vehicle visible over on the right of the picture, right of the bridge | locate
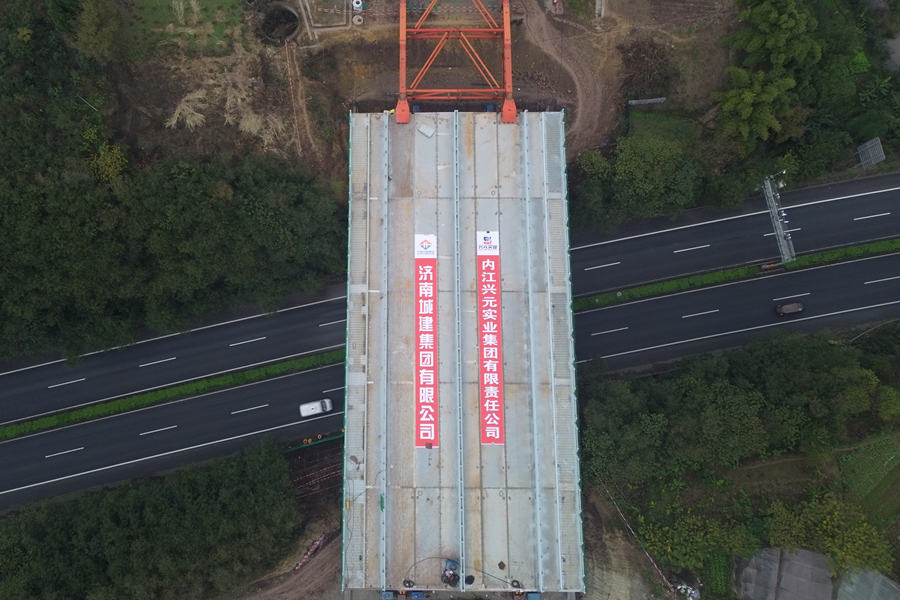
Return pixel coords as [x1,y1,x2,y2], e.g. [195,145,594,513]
[774,301,802,315]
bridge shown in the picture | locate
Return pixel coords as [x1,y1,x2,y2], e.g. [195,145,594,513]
[340,104,588,597]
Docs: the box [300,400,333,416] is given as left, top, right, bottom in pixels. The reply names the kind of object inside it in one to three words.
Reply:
vehicle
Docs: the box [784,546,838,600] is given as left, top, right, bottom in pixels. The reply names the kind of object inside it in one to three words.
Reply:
greenhouse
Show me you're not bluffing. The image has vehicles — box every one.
[774,301,802,315]
[300,400,333,416]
